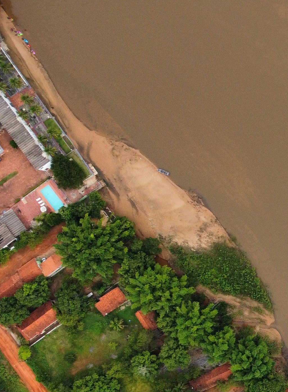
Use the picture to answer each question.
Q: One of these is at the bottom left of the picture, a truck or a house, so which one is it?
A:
house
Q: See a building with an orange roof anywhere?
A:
Yes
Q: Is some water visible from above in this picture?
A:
Yes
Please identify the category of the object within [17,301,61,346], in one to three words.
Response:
house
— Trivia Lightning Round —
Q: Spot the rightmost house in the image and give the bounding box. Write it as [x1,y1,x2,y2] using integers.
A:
[192,363,235,392]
